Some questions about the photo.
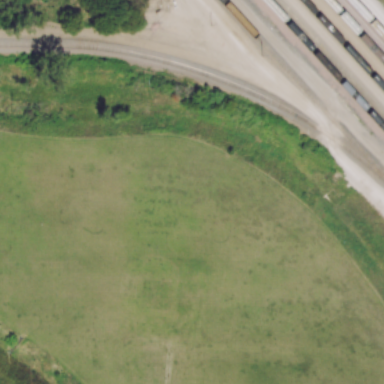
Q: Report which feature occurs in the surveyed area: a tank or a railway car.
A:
railway car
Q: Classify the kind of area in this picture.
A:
sports ground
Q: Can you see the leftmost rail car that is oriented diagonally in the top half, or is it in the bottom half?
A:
top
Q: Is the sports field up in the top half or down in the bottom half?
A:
bottom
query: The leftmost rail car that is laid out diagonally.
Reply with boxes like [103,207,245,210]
[226,0,261,38]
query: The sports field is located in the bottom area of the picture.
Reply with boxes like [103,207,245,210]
[0,130,384,384]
